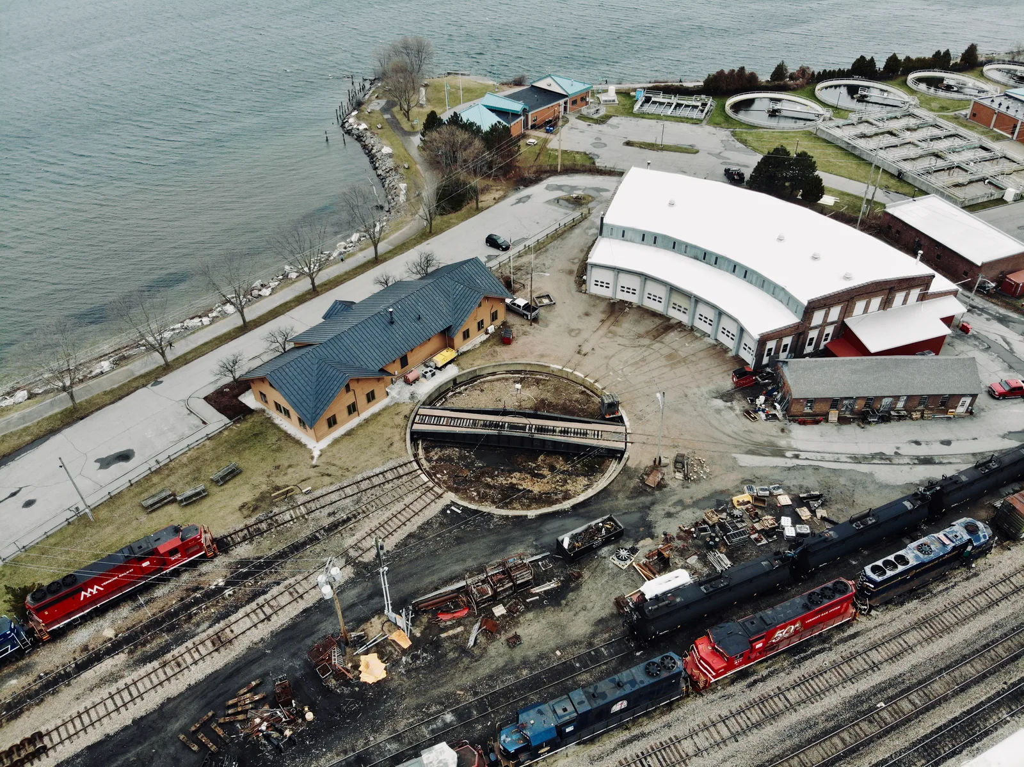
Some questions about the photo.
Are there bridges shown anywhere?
Yes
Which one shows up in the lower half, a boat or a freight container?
freight container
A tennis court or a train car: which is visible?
train car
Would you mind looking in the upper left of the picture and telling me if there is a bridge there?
No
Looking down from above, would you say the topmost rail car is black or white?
black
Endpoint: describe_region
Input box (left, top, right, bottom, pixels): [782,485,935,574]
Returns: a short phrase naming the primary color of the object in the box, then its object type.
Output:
black rail car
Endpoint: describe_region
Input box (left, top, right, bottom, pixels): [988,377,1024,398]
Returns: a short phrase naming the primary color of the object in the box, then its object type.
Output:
red truck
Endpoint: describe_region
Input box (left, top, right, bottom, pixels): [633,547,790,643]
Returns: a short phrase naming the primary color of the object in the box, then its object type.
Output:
black rail car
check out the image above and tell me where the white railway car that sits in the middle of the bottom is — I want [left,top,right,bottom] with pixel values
[403,740,497,767]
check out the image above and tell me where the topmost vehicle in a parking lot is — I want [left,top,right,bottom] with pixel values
[723,167,748,183]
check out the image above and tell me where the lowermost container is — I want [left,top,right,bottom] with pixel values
[552,513,624,563]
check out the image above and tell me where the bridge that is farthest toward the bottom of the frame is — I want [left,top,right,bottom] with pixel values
[407,388,626,459]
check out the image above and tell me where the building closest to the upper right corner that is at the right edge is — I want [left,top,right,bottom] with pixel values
[969,84,1024,140]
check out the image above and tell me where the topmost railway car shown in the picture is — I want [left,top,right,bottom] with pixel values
[925,440,1024,513]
